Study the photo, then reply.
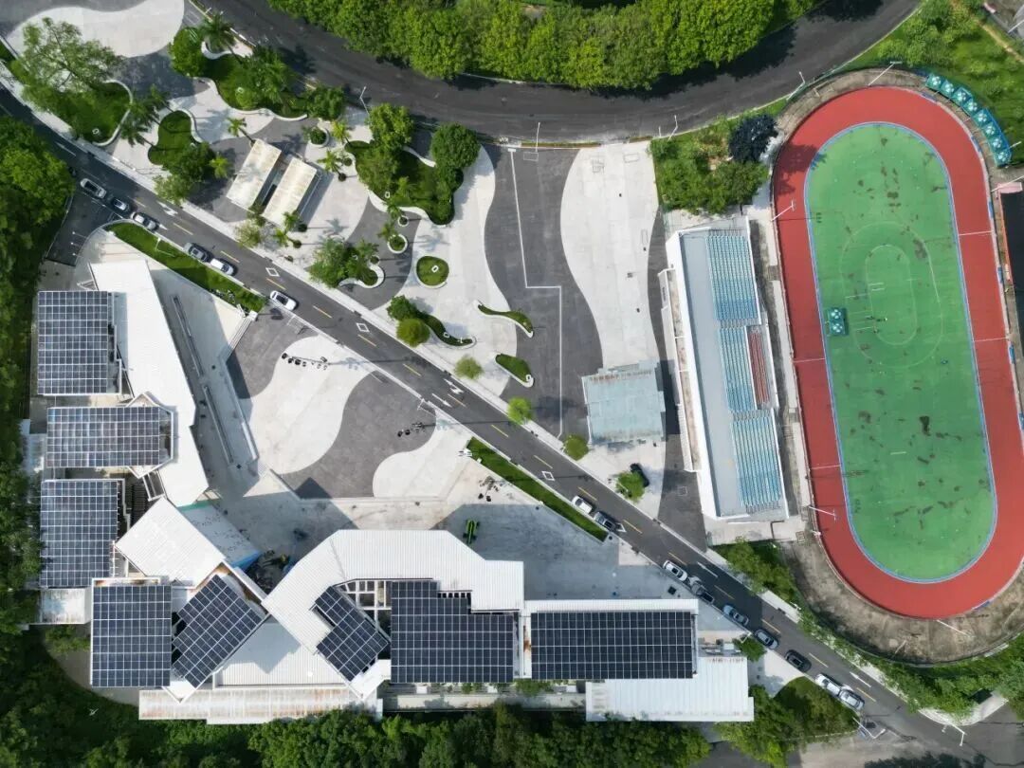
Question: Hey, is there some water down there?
No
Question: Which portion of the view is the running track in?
right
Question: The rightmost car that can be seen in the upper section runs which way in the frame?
diagonally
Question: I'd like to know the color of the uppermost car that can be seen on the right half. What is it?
black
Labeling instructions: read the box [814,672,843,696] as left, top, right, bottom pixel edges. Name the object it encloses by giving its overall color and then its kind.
white car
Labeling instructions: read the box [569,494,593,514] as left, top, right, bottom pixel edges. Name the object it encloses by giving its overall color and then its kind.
white vehicle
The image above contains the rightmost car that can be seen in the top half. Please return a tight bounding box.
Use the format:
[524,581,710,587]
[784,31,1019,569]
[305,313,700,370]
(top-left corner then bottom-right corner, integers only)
[268,289,295,311]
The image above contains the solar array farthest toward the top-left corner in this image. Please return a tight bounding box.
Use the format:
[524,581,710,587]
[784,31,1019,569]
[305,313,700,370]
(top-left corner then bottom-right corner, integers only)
[35,291,112,394]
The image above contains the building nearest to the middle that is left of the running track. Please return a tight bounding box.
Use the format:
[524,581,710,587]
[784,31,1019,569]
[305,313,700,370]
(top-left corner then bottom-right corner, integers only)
[581,360,666,444]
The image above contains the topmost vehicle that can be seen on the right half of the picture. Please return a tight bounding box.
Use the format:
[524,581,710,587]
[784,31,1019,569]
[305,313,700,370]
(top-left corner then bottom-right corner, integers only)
[629,460,653,486]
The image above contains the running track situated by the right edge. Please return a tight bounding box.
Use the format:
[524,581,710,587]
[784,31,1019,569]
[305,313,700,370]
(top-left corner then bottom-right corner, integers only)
[768,81,1024,625]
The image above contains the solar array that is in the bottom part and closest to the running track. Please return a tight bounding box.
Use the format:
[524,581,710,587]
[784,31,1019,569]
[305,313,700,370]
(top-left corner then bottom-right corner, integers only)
[531,611,691,679]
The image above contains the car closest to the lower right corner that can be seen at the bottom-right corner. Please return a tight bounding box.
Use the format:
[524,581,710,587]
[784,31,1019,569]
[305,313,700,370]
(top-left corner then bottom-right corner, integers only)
[842,692,869,715]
